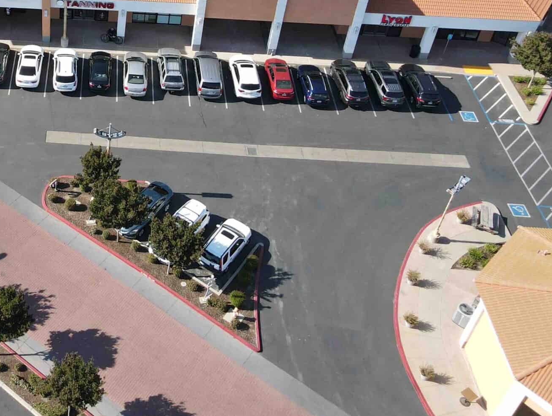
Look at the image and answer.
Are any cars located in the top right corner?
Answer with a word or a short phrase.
Yes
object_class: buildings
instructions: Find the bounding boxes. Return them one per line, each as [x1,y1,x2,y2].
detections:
[453,226,552,416]
[0,0,552,65]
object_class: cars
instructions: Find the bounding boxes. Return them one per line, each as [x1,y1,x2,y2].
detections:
[119,179,176,239]
[54,47,82,93]
[0,42,12,85]
[87,52,114,93]
[197,217,260,282]
[296,61,331,106]
[171,195,212,238]
[367,60,407,107]
[17,45,45,88]
[232,55,262,99]
[264,58,296,101]
[158,46,186,92]
[193,52,224,100]
[333,60,371,107]
[400,62,443,110]
[121,54,150,98]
